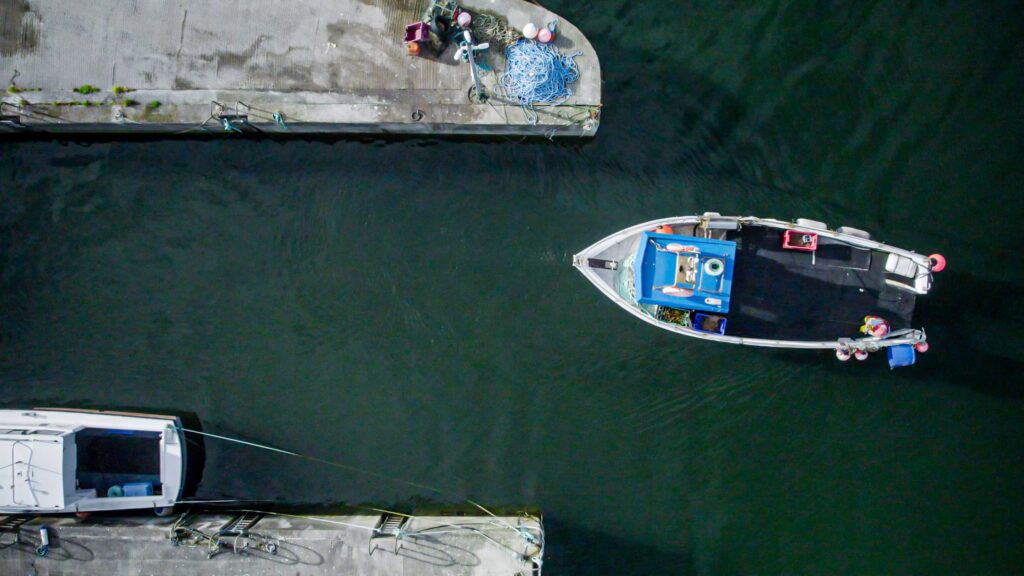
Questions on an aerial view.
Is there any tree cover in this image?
No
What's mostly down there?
water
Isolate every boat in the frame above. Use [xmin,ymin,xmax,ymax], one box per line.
[573,215,935,350]
[0,406,207,513]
